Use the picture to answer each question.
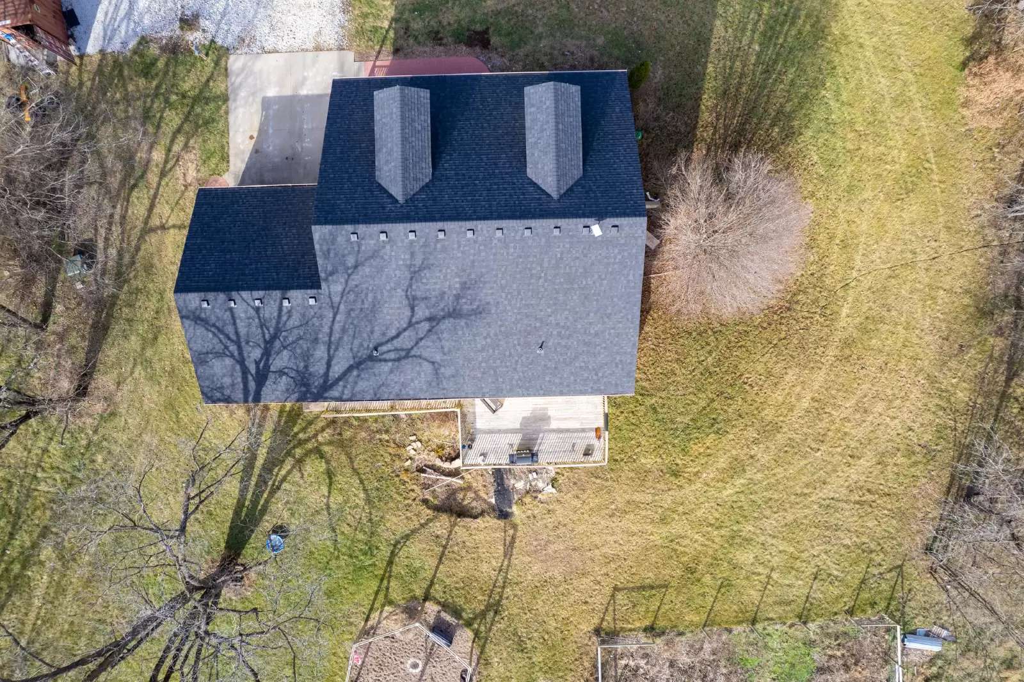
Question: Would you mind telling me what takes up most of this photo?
grass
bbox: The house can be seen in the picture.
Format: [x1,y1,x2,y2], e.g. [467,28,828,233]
[174,68,647,405]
